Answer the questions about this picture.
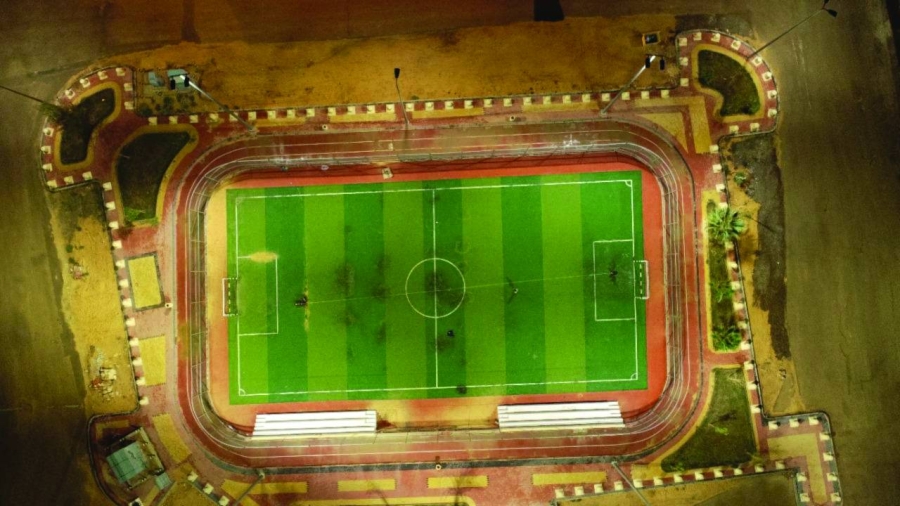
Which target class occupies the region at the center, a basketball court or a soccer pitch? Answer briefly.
soccer pitch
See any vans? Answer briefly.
No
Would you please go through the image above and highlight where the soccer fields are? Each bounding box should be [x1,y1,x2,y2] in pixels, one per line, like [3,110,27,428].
[226,170,649,405]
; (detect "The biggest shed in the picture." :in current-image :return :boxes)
[106,425,170,489]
